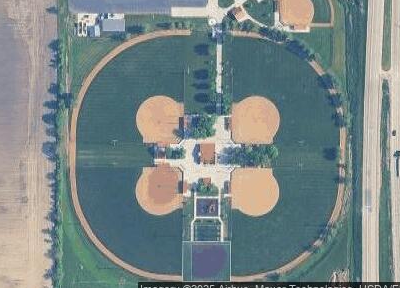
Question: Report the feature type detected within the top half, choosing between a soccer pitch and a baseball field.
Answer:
baseball field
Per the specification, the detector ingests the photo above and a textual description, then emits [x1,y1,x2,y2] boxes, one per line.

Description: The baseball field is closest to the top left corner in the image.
[69,29,191,155]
